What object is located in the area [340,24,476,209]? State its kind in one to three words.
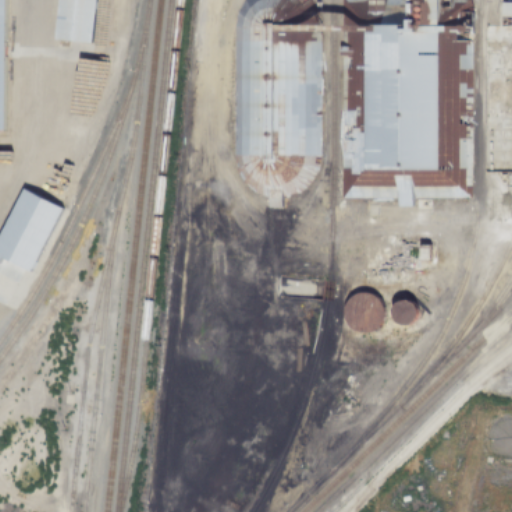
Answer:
building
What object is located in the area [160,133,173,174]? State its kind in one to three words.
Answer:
rail car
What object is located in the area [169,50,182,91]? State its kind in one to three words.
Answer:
rail car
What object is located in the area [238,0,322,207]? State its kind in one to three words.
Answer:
building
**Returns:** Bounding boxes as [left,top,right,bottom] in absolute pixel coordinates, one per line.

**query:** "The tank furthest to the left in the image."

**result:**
[344,292,388,332]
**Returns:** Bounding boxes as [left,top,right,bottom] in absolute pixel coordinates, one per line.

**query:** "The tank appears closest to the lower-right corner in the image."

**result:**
[392,298,432,326]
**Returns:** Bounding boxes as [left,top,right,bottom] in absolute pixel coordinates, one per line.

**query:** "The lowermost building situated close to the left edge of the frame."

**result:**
[0,188,65,270]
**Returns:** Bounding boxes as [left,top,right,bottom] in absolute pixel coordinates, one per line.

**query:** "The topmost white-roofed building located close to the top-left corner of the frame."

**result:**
[55,0,97,43]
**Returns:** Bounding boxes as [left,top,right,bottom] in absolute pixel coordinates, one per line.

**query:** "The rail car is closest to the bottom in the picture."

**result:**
[142,300,155,342]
